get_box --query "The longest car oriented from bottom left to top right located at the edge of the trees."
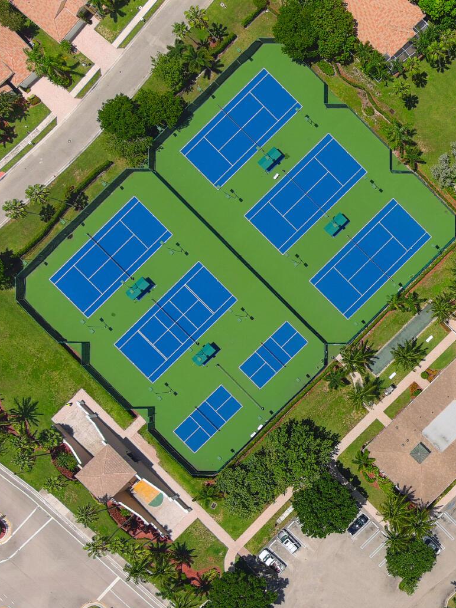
[348,513,370,534]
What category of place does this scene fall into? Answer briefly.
sports ground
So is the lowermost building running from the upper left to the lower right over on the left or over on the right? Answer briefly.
left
